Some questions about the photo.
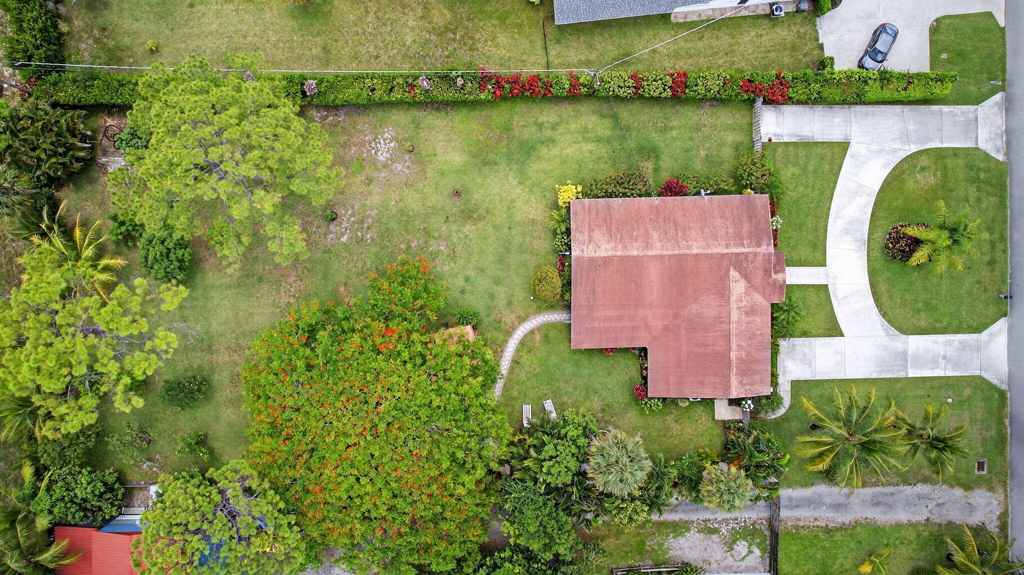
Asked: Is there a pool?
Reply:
No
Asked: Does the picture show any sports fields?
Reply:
No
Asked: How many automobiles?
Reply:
1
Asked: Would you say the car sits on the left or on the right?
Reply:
right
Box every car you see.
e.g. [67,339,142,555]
[856,23,899,79]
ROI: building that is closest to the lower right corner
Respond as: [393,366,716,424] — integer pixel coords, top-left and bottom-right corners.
[559,189,794,398]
